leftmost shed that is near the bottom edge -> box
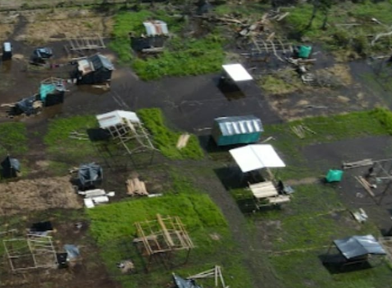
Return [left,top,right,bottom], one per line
[3,236,56,277]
